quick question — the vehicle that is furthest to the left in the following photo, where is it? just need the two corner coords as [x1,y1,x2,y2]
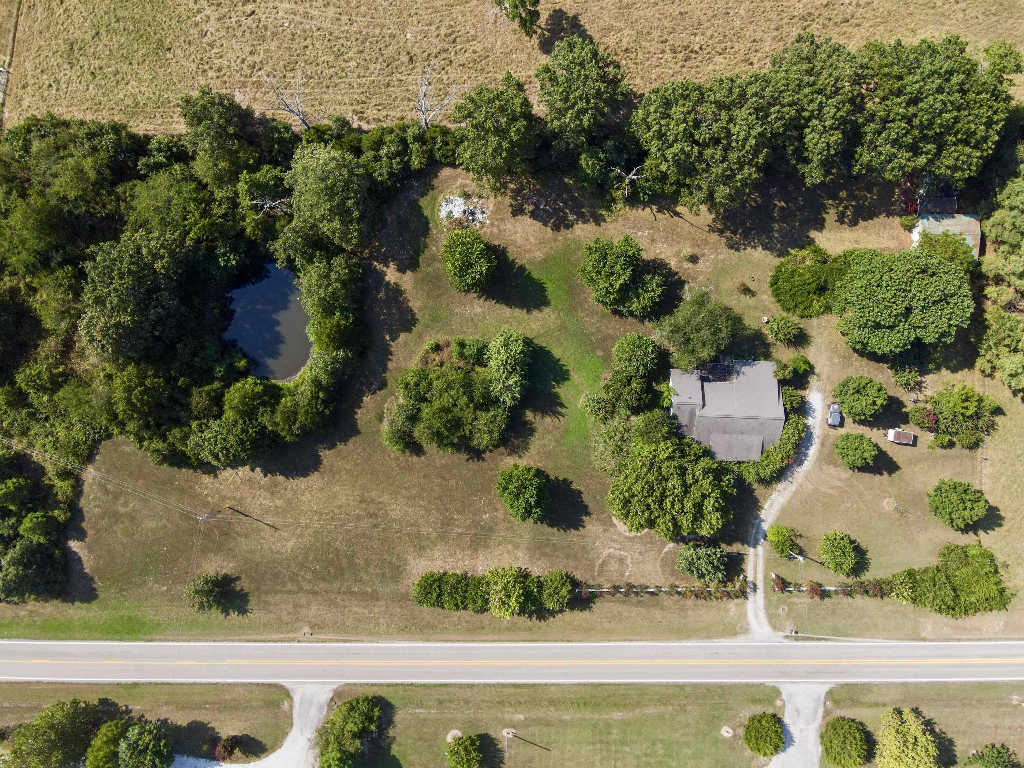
[826,402,841,427]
